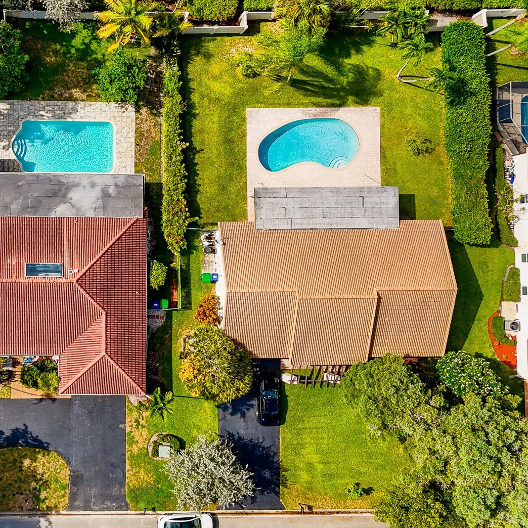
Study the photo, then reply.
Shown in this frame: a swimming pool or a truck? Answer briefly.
swimming pool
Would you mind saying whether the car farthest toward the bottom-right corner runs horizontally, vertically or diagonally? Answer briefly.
vertically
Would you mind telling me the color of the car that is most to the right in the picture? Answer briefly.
black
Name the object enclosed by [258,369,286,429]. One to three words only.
car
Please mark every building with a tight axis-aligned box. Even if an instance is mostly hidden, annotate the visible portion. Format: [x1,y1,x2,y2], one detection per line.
[515,147,528,389]
[0,173,148,395]
[215,186,459,367]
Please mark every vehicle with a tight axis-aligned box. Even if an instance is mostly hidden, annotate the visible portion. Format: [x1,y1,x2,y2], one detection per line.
[159,514,215,528]
[258,369,286,429]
